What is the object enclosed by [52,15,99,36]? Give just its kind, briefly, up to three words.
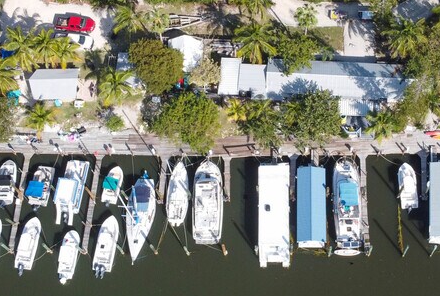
vehicle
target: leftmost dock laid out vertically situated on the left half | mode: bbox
[7,155,35,253]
